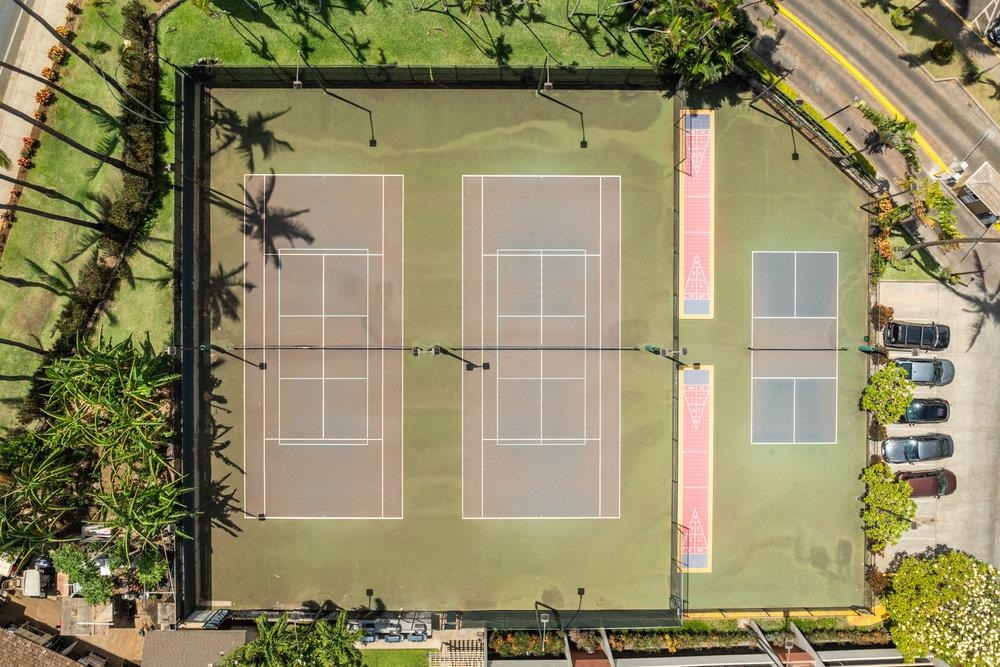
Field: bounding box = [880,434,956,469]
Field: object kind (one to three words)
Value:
car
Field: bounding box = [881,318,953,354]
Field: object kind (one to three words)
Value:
car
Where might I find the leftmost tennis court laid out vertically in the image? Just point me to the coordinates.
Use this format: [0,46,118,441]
[243,175,403,520]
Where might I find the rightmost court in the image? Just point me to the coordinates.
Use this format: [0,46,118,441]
[752,251,839,445]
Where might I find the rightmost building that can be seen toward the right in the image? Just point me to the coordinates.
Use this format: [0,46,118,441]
[946,156,1000,234]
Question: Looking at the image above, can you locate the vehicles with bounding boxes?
[891,355,957,389]
[891,468,961,502]
[880,434,956,469]
[892,397,953,429]
[881,318,953,354]
[22,562,59,597]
